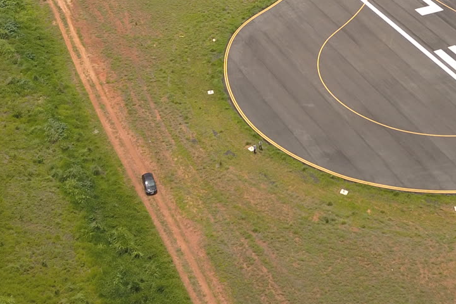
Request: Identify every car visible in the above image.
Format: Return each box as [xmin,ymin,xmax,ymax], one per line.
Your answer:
[142,169,159,190]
